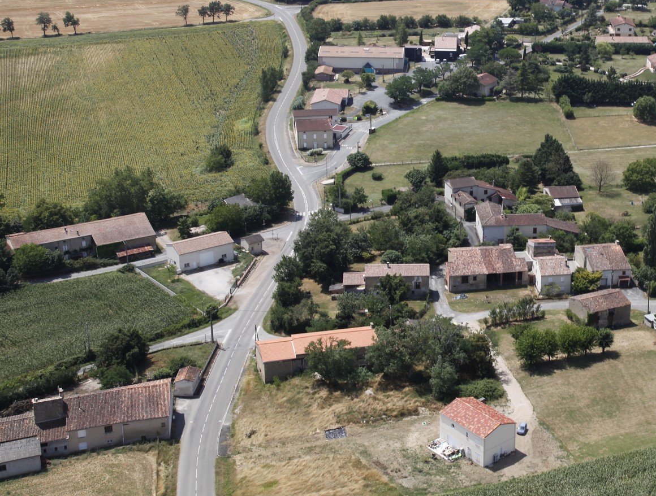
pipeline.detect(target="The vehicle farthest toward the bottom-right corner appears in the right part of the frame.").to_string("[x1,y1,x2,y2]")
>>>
[518,420,530,435]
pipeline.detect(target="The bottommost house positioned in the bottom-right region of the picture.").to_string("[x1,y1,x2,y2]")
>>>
[437,395,518,466]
